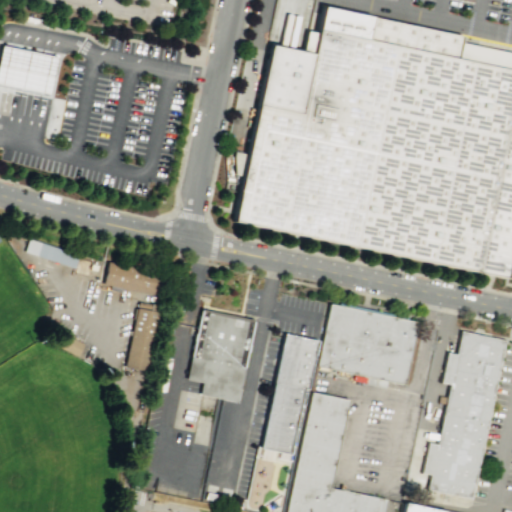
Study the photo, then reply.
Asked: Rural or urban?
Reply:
urban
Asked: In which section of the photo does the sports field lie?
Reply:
bottom left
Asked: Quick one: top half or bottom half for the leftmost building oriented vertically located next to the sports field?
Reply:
bottom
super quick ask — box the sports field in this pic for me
[0,240,126,512]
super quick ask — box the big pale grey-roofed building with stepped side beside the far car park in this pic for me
[424,330,506,497]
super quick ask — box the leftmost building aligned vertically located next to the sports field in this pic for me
[126,304,158,372]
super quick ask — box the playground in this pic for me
[243,460,287,510]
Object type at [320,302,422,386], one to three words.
building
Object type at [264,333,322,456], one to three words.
building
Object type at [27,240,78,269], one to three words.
shed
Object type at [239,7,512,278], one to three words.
warehouse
